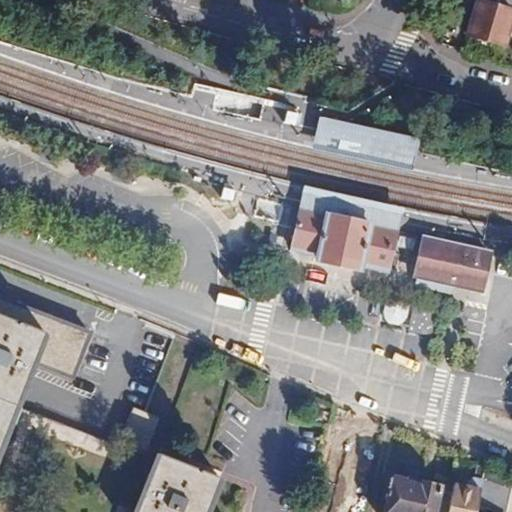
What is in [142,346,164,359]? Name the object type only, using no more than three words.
vehicle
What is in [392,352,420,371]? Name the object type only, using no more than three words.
vehicle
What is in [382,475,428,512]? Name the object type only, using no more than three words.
house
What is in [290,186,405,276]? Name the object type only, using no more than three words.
building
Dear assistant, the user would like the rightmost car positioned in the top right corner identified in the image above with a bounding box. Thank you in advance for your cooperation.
[490,72,510,84]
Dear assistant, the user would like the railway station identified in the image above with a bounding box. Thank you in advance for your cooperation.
[0,42,512,237]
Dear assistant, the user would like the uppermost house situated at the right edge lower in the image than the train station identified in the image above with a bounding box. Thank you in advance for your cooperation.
[414,234,494,298]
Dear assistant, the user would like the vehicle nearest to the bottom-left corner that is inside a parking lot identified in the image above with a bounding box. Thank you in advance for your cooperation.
[72,378,94,392]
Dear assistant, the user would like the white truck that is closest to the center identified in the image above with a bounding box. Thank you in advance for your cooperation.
[215,292,252,312]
